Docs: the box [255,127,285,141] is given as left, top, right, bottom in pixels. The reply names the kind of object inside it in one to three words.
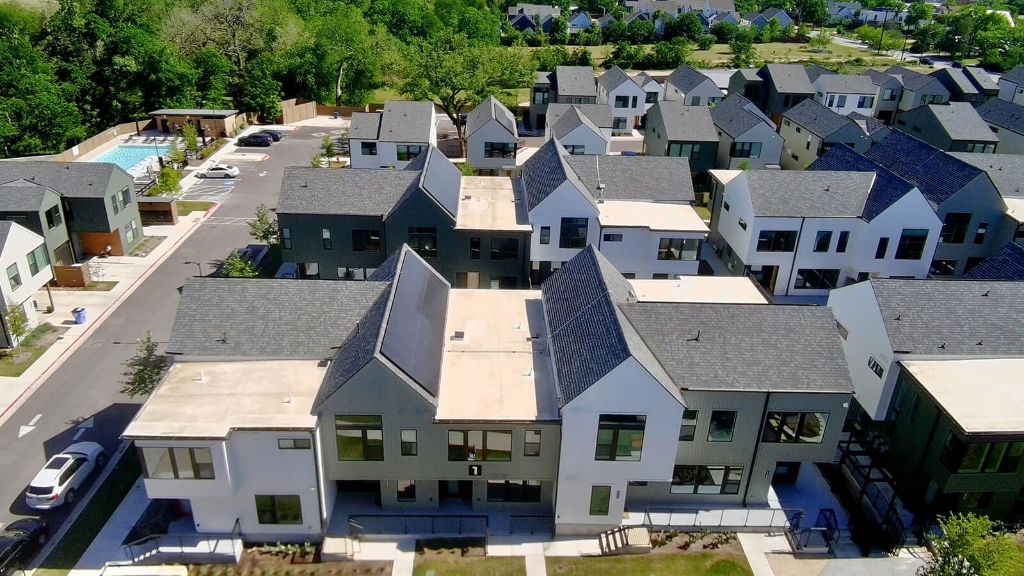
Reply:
car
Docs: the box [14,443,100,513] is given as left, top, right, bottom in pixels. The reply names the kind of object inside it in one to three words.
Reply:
car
